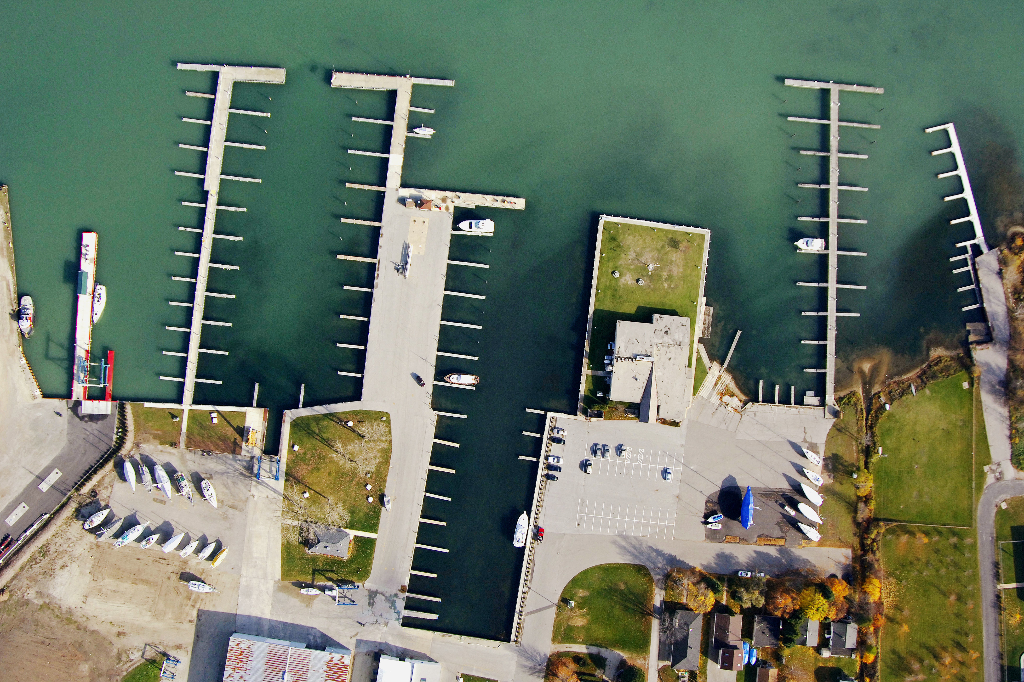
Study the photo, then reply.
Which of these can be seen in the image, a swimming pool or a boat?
boat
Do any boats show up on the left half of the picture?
Yes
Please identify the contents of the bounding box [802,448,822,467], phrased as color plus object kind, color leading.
white boat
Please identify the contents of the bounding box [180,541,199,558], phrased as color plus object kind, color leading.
white boat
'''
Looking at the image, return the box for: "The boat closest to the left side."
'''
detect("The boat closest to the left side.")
[16,296,35,337]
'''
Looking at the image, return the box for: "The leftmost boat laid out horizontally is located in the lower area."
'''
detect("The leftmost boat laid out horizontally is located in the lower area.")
[178,582,228,596]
